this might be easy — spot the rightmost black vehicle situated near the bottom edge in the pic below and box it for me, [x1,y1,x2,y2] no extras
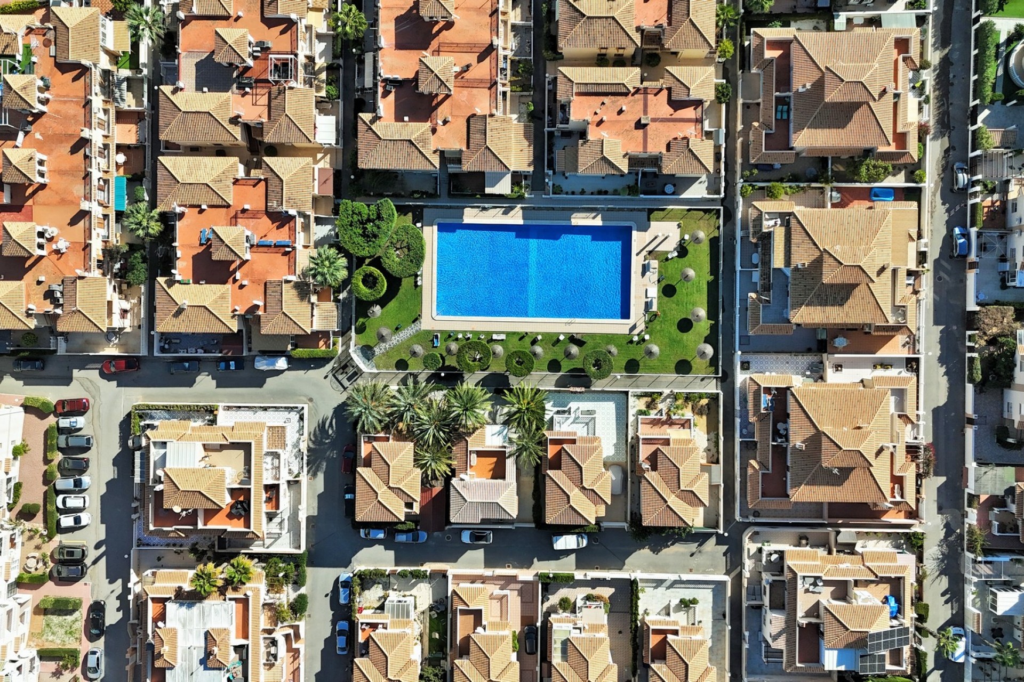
[522,624,537,654]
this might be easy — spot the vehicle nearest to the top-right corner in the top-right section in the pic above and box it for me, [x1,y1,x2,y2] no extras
[949,161,970,193]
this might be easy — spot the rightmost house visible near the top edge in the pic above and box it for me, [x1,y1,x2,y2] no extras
[747,13,920,165]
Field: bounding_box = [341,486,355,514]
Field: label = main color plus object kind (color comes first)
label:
black car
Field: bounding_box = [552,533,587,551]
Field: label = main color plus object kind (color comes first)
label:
white vehicle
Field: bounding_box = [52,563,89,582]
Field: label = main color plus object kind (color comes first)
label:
gray car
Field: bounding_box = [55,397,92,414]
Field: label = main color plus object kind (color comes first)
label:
red car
